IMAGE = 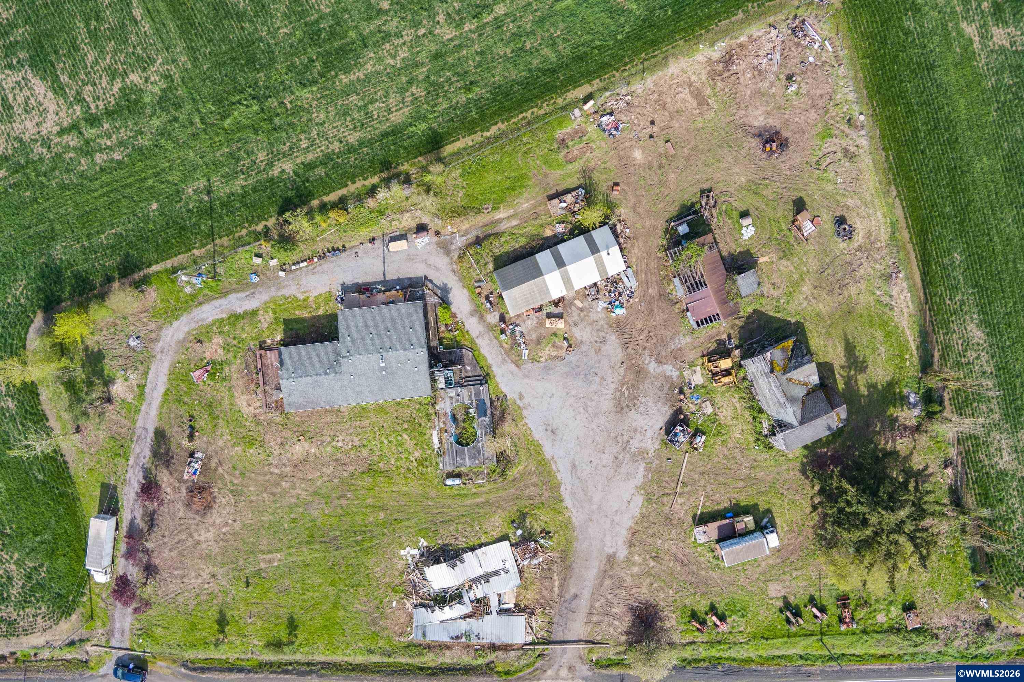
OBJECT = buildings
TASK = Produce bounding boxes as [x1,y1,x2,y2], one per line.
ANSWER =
[278,300,432,413]
[732,269,760,296]
[740,335,847,452]
[413,541,526,644]
[668,234,739,328]
[493,226,626,316]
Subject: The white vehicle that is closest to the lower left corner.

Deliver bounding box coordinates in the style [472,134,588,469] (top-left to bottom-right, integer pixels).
[86,515,120,583]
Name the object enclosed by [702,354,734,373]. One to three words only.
work vehicle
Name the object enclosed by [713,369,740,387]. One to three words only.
work vehicle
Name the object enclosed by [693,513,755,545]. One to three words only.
truck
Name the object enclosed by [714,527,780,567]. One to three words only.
truck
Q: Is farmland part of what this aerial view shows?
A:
Yes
